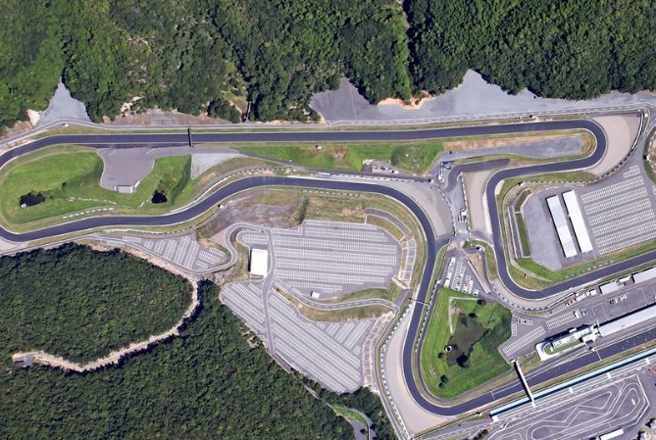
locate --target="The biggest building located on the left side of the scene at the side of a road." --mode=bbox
[250,249,268,276]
